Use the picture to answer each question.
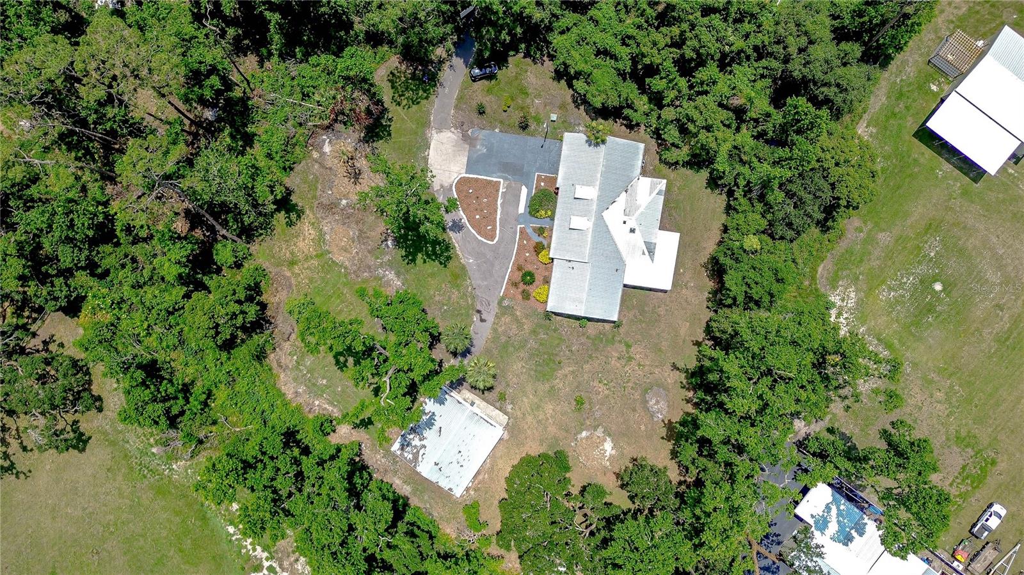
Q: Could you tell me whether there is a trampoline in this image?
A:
No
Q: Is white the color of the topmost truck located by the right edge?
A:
Yes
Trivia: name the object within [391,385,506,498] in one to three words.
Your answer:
shed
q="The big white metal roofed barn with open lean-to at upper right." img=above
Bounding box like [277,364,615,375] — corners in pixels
[910,25,1024,175]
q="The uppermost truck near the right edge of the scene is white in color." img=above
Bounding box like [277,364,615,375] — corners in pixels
[972,502,1005,541]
